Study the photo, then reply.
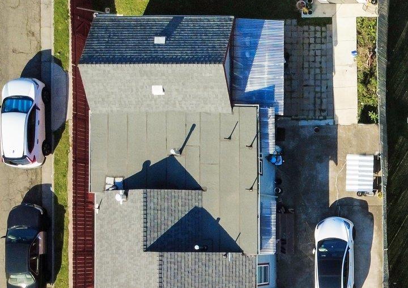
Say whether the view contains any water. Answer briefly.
No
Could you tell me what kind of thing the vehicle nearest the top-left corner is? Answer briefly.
automobile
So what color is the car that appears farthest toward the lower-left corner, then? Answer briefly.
black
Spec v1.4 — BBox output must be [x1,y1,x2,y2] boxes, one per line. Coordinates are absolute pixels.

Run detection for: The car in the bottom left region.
[6,204,52,288]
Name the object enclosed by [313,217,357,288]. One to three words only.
car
